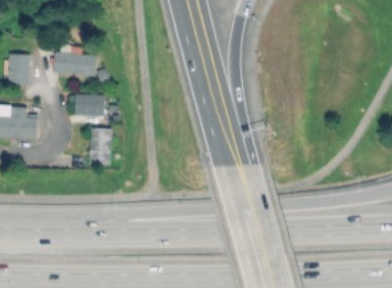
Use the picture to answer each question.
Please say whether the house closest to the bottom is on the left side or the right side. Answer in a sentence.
The house closest to the bottom is on the left side of the image.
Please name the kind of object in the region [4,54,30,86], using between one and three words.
house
